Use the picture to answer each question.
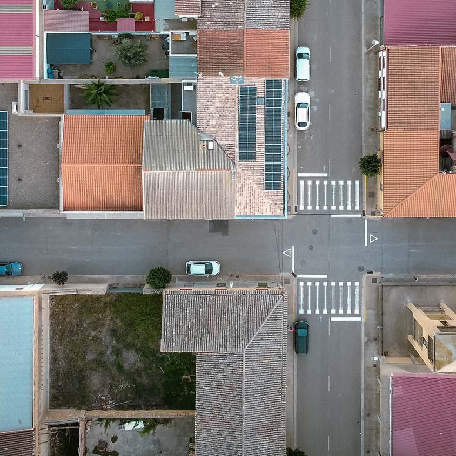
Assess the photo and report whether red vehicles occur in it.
No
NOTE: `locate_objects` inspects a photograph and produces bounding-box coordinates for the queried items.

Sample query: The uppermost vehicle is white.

[294,45,311,81]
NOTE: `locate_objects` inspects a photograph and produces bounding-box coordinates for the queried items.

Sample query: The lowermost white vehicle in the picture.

[186,260,220,277]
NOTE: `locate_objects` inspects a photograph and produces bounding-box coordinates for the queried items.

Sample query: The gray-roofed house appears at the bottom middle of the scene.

[161,282,287,456]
